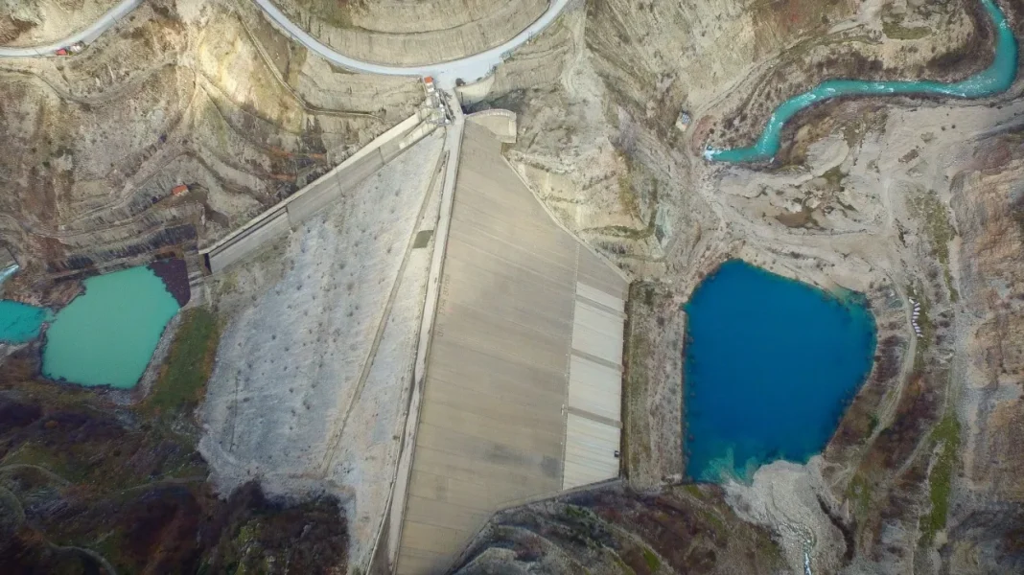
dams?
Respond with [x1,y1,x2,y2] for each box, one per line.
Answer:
[201,107,631,575]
